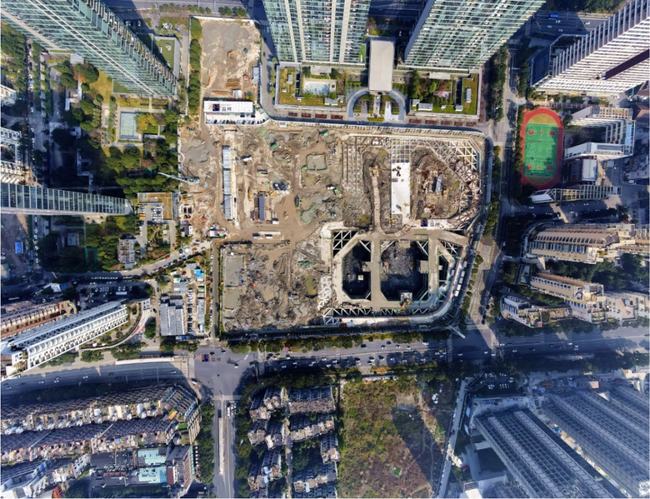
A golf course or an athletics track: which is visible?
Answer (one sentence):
Looking from above, you can make out an athletics track.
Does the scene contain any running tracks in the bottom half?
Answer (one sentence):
No, there is no running track in the bottom half.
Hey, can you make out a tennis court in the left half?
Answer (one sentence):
Yes, a tennis court appears in the left half.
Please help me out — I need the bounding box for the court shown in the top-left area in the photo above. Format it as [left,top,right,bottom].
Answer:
[114,109,144,141]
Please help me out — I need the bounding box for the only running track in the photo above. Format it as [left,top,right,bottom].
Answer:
[521,107,562,189]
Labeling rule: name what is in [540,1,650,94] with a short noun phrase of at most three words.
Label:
building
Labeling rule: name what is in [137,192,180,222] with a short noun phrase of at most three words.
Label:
house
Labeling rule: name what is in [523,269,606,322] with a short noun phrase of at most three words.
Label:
house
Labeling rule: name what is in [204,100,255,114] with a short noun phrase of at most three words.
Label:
building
